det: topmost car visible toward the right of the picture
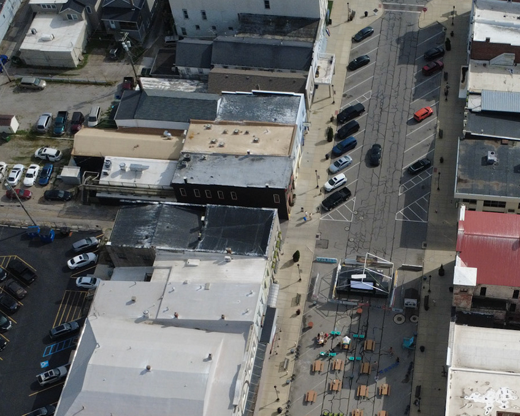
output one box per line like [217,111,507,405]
[352,28,375,43]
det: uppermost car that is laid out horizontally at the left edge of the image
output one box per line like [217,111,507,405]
[18,76,47,91]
